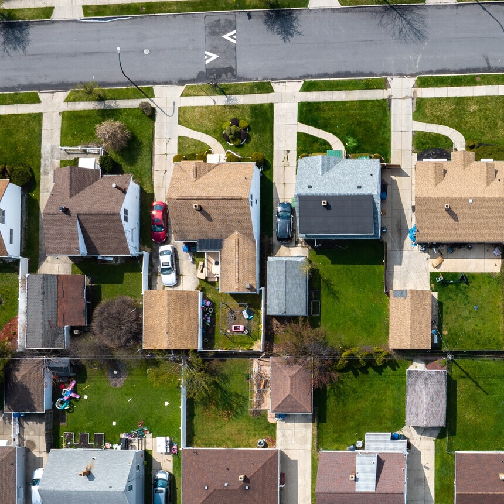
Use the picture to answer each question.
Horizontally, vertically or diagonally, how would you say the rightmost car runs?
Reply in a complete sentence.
The rightmost car is laid out vertically.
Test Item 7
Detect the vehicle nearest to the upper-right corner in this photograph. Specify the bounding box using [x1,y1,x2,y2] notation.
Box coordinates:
[274,203,294,244]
